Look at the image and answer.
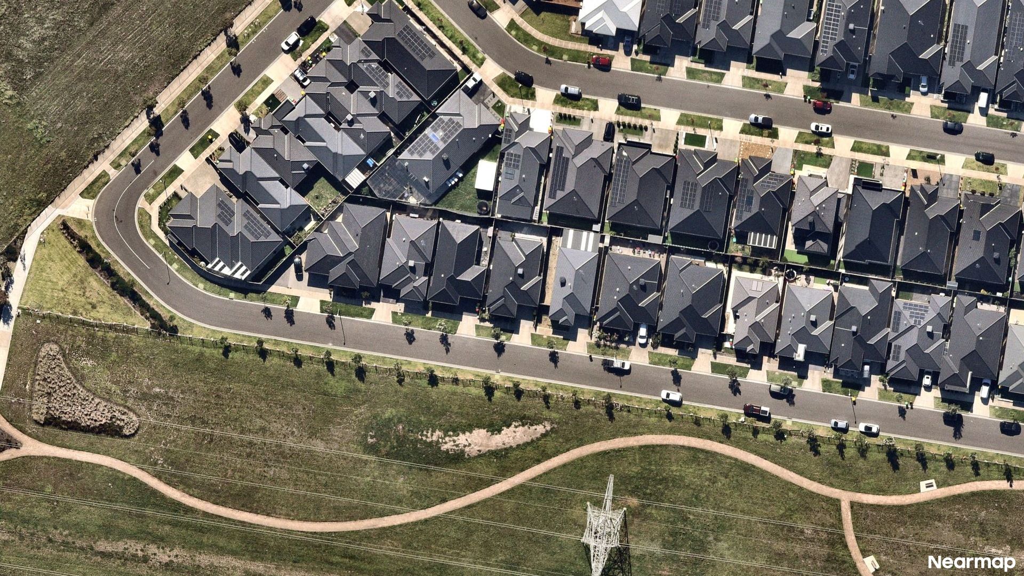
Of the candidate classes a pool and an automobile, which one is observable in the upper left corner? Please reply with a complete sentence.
You can see an automobile in the upper left corner.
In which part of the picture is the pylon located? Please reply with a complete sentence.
The pylon is in the bottom part of the image.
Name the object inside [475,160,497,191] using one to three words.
shed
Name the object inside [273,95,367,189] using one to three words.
house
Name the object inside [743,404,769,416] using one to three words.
vehicle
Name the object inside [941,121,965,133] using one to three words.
vehicle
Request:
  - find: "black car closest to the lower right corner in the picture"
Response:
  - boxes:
[998,422,1021,434]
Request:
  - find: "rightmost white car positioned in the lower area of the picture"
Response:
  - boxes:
[979,378,991,400]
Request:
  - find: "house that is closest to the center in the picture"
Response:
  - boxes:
[486,239,543,318]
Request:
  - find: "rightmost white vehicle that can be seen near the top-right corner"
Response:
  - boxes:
[976,87,989,112]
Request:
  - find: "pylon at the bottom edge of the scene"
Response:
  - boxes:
[580,475,627,576]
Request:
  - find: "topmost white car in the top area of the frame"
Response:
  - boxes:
[281,33,300,52]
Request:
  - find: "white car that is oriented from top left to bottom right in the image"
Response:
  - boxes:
[292,66,311,87]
